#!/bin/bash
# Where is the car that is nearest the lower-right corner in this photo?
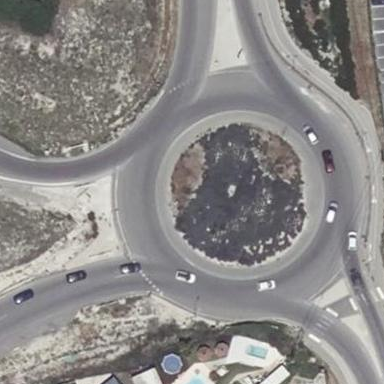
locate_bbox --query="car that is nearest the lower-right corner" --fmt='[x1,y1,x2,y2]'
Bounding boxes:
[348,266,361,286]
